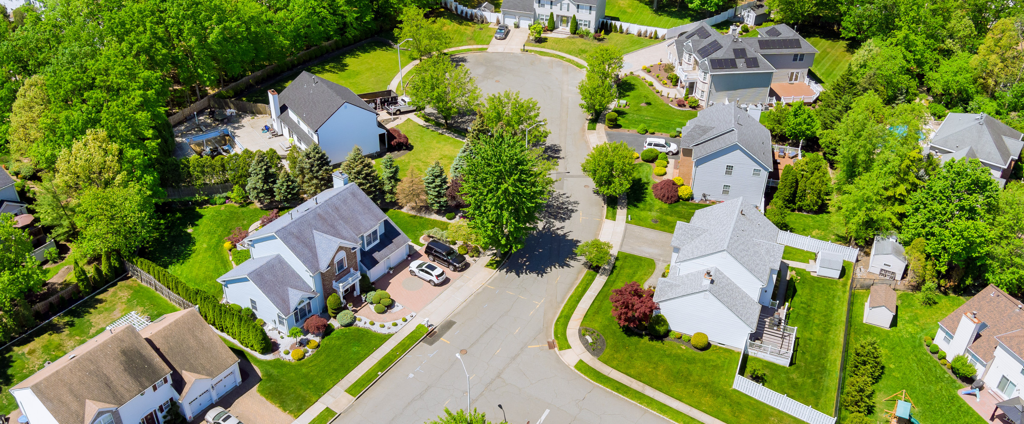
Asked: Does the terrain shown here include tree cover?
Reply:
Yes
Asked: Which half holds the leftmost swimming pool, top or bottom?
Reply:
top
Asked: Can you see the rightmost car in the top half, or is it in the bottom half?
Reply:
top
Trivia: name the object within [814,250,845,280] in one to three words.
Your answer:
shed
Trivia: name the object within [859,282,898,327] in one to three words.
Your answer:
shed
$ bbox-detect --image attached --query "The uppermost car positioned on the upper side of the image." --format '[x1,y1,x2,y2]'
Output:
[493,24,511,37]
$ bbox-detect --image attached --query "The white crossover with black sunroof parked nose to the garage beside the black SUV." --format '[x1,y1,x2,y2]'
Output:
[408,258,450,284]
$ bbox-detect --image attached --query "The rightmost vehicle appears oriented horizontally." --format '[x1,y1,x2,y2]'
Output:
[644,133,680,153]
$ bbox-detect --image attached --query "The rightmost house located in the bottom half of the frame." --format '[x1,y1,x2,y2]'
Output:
[934,283,1024,397]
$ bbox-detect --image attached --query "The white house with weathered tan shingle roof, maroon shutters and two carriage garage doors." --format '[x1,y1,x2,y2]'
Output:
[6,310,241,424]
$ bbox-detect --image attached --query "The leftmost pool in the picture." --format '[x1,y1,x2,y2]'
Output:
[188,127,247,162]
